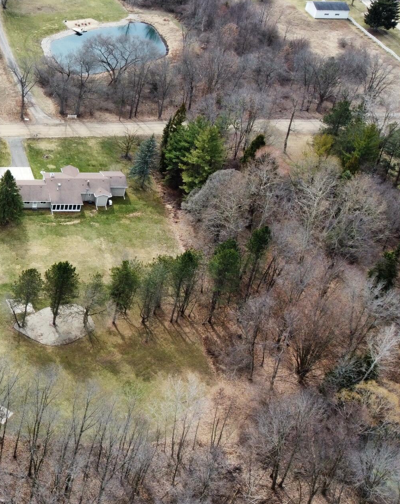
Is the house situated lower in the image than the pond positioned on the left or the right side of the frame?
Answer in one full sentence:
You can find the house situated lower in the image than the pond on the left side of the picture.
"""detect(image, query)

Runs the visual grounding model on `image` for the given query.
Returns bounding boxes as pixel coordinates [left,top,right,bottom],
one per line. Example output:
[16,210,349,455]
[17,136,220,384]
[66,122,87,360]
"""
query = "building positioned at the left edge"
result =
[2,164,128,214]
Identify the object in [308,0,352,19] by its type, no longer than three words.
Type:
building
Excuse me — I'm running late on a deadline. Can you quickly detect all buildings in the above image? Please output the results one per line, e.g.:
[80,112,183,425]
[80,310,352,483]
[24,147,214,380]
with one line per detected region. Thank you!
[308,0,352,19]
[2,164,128,214]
